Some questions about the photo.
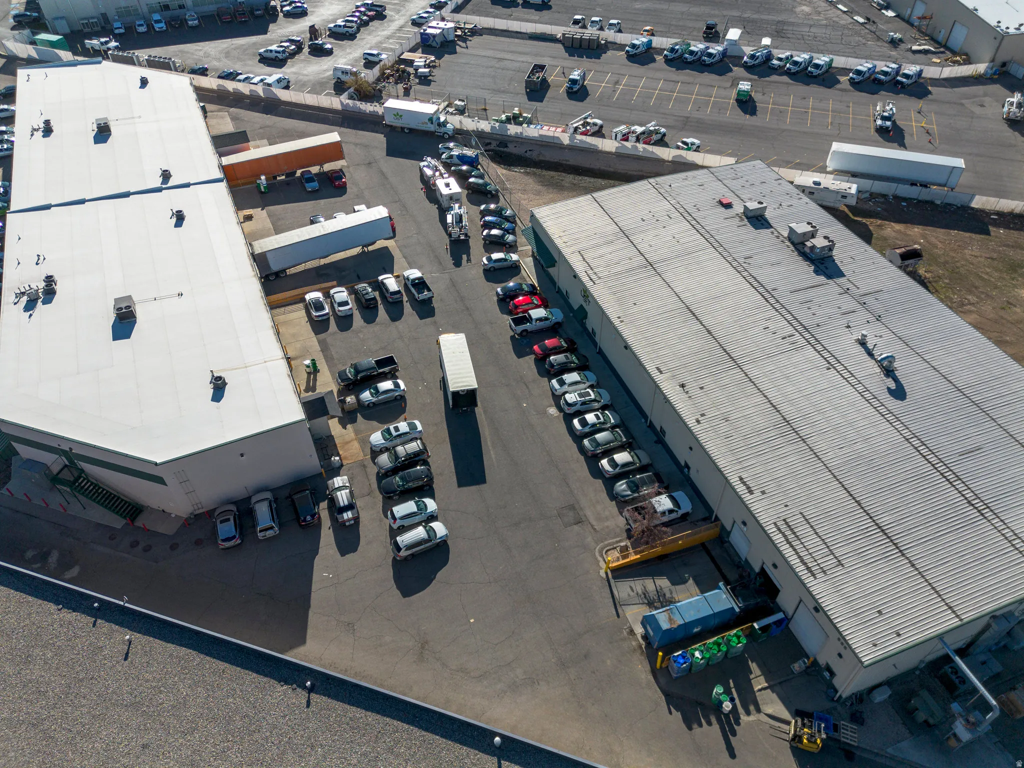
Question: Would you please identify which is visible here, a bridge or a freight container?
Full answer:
There is a freight container in the scene.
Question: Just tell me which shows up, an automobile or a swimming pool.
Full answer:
This aerial view contains an automobile.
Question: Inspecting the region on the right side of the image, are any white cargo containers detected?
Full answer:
No, no white cargo container appears on the right side of the image.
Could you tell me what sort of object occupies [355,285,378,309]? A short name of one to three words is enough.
car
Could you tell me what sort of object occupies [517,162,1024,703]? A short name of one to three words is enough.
building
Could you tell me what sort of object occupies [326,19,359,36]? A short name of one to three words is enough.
vehicle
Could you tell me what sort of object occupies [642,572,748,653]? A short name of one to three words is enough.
shipping container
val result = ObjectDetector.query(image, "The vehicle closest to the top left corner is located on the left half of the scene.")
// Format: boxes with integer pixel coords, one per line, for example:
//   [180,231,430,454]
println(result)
[9,10,42,24]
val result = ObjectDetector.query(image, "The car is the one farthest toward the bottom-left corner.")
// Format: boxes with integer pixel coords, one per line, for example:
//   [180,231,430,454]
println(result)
[211,503,243,553]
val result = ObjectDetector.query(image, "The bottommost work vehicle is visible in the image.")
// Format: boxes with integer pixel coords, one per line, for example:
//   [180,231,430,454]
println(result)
[768,721,835,755]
